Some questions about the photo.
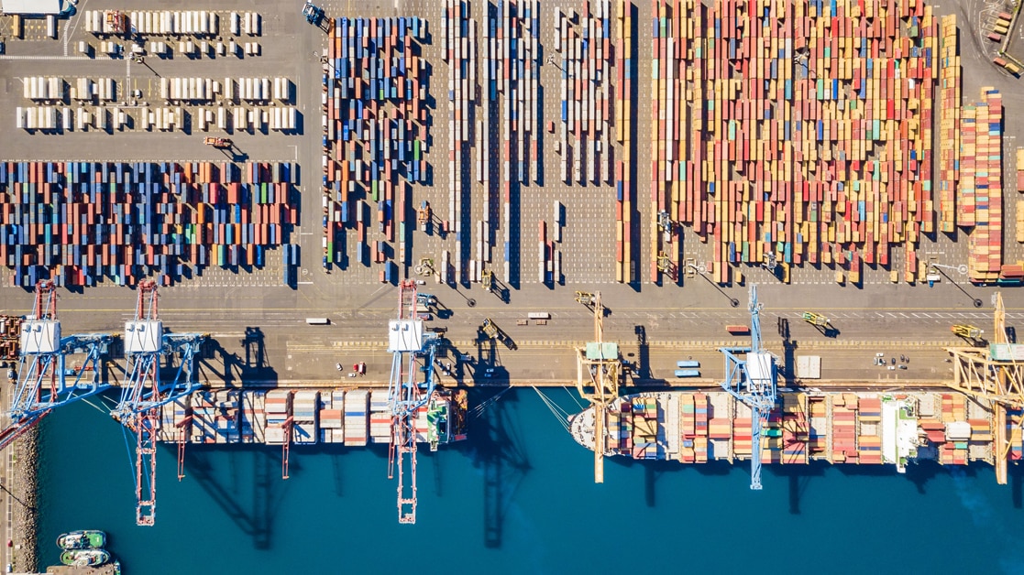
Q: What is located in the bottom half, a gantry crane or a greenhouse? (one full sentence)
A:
You can see a gantry crane in the bottom half.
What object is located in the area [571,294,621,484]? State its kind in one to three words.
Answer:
container crane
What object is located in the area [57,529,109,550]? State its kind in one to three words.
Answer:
boat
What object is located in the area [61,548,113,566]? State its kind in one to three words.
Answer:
boat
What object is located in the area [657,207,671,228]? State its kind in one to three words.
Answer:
work vehicle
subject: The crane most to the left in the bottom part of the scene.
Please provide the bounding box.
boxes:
[0,280,117,454]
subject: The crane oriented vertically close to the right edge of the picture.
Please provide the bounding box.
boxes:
[943,297,1024,482]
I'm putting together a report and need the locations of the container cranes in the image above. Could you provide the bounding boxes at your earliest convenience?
[0,280,117,454]
[717,286,778,491]
[943,297,1024,482]
[387,280,441,525]
[116,280,210,525]
[571,294,621,484]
